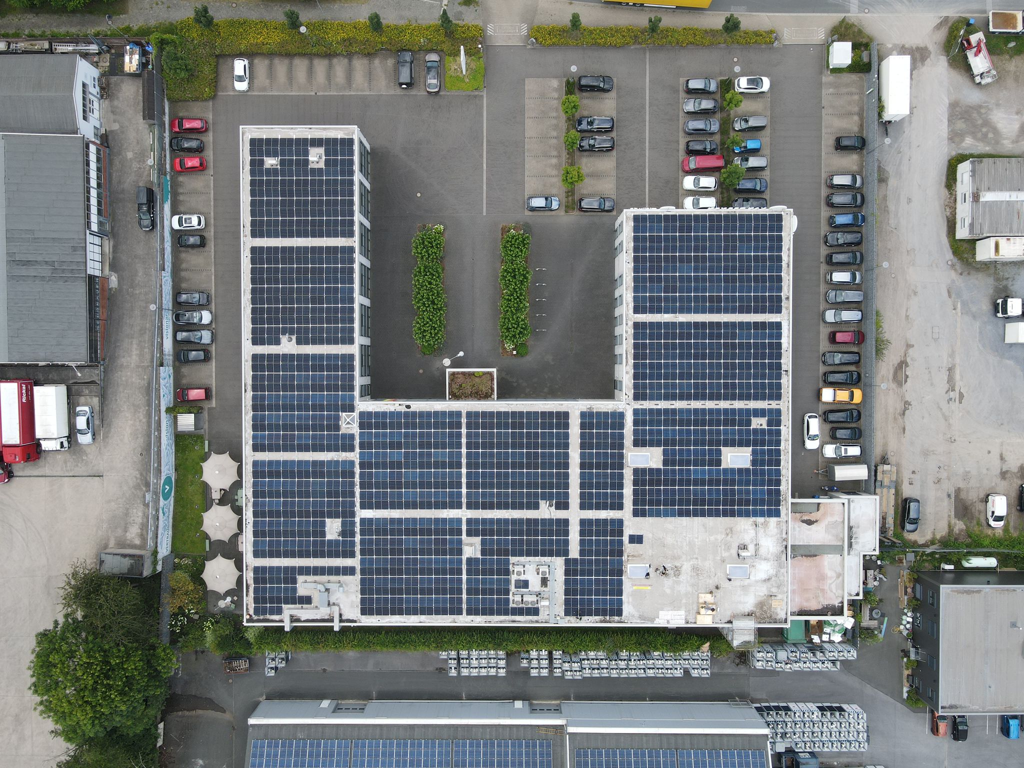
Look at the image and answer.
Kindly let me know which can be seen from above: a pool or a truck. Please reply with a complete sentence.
I can see a truck in this picture.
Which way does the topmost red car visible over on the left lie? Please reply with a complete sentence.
The topmost red car visible over on the left is laid out from left to right.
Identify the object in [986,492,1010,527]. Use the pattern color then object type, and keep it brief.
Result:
white vehicle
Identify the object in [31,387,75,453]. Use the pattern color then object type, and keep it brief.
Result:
white truck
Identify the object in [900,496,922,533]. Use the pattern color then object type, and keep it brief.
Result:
gray car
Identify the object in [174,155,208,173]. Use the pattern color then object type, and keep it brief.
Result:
red car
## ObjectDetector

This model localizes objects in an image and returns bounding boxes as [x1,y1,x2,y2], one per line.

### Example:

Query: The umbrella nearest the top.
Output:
[203,452,241,490]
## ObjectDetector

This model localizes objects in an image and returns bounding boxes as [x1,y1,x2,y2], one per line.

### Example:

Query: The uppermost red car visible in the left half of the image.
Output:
[170,115,209,135]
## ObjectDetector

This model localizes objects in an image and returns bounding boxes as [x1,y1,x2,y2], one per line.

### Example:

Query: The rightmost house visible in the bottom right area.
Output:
[911,571,1024,714]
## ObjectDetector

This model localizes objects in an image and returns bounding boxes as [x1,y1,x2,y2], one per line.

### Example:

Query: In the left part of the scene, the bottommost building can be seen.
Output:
[245,694,566,768]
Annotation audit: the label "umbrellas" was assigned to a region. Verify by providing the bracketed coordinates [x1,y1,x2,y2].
[204,502,242,541]
[203,452,241,490]
[203,554,244,594]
